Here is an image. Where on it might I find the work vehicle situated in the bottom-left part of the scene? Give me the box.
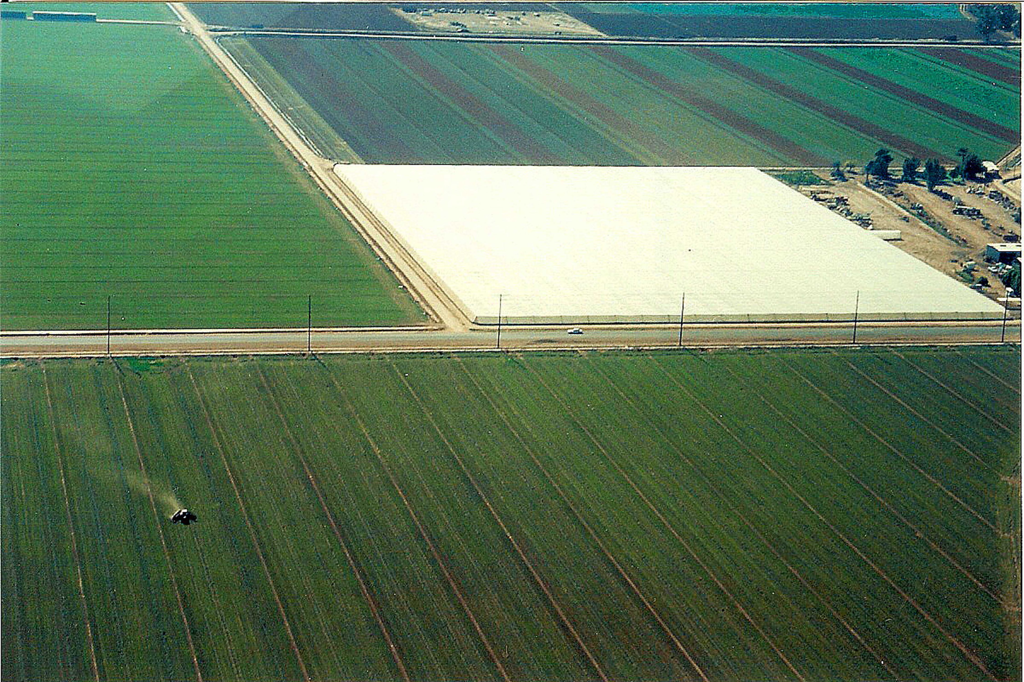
[167,511,195,526]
